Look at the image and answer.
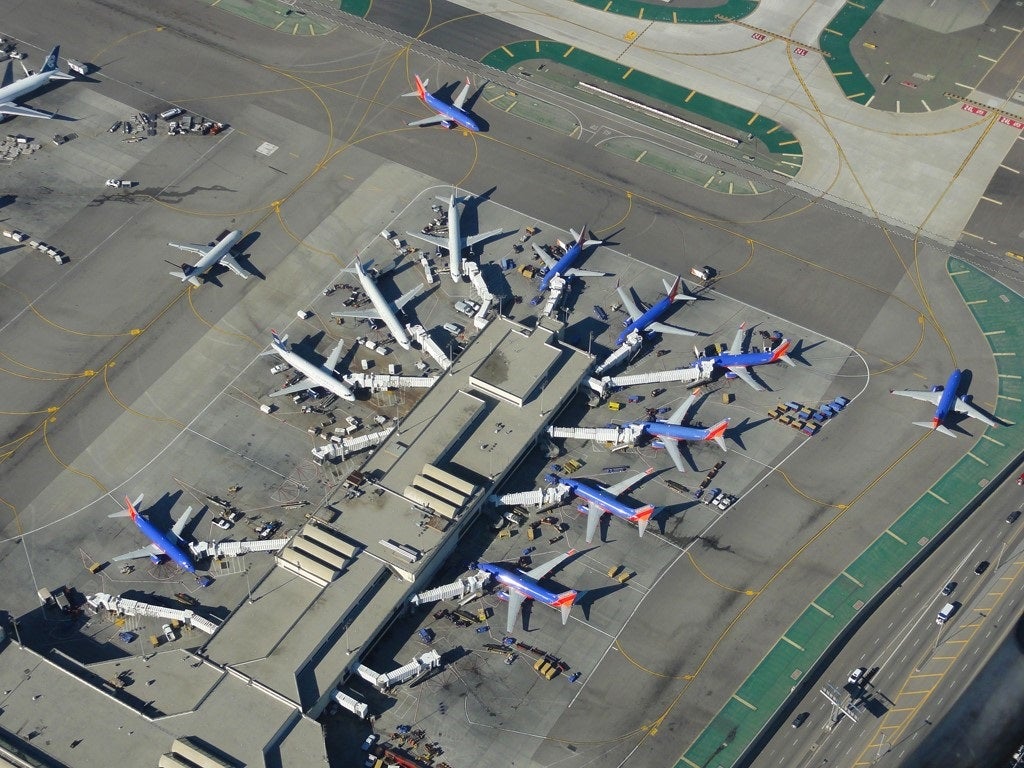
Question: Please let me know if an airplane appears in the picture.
Yes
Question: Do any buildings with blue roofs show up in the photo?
No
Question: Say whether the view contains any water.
No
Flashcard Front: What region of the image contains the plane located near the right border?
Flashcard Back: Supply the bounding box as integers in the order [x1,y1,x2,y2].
[889,370,999,438]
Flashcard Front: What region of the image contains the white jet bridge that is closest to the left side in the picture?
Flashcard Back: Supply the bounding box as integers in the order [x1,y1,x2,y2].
[87,598,218,636]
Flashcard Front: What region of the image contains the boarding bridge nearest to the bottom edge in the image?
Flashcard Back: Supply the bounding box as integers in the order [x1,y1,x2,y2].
[329,687,374,727]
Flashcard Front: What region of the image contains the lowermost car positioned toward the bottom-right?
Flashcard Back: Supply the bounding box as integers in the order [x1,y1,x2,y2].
[791,713,806,730]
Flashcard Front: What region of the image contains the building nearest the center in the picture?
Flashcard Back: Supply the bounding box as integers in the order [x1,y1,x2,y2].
[196,315,596,725]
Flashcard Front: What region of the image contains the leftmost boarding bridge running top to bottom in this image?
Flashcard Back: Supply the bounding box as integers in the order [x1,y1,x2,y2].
[463,261,491,341]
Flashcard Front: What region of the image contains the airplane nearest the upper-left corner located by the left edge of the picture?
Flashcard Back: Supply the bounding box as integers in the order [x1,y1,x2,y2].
[0,47,76,126]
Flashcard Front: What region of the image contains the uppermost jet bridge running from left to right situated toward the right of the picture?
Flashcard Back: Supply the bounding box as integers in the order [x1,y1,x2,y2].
[594,363,710,403]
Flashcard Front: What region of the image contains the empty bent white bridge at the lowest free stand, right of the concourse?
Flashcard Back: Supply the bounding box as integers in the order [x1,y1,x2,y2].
[352,650,441,698]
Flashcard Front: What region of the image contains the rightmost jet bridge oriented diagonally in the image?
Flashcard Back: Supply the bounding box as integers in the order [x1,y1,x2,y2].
[592,337,636,391]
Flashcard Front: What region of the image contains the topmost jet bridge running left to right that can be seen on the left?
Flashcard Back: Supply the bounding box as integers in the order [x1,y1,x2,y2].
[350,375,438,403]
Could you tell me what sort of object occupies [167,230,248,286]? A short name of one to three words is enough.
airplane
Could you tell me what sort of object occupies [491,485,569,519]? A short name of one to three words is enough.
jet bridge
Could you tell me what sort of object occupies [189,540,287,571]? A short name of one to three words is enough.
jet bridge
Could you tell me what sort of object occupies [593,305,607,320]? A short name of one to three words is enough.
vehicle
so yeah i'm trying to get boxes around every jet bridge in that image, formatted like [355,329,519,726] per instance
[491,485,569,519]
[310,428,395,467]
[352,650,441,698]
[594,363,710,403]
[542,279,565,320]
[408,572,485,618]
[545,425,645,455]
[350,375,438,403]
[329,687,374,727]
[406,325,453,375]
[189,540,287,571]
[463,261,491,341]
[87,598,218,636]
[592,337,636,391]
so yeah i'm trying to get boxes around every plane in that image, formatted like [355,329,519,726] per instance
[402,74,480,132]
[331,251,424,351]
[0,47,76,126]
[406,194,502,284]
[559,467,666,544]
[108,493,196,574]
[531,223,605,295]
[622,387,731,472]
[889,370,999,438]
[616,275,702,346]
[167,230,248,286]
[478,548,589,634]
[258,330,356,402]
[691,321,796,390]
